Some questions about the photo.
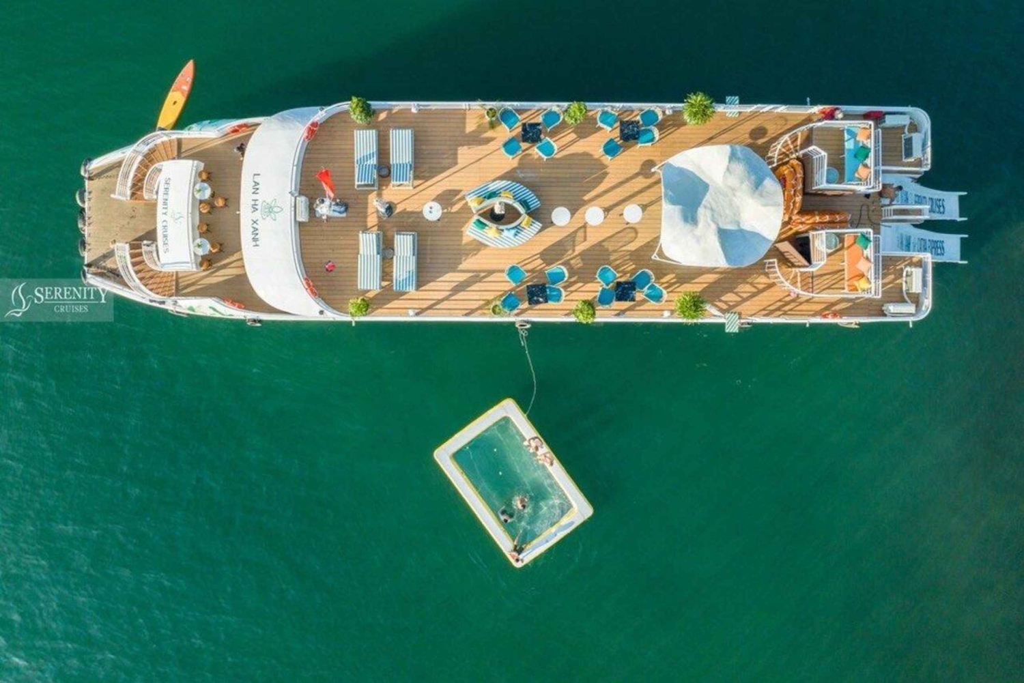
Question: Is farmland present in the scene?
No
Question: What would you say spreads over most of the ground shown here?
water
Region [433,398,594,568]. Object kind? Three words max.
swimming pool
